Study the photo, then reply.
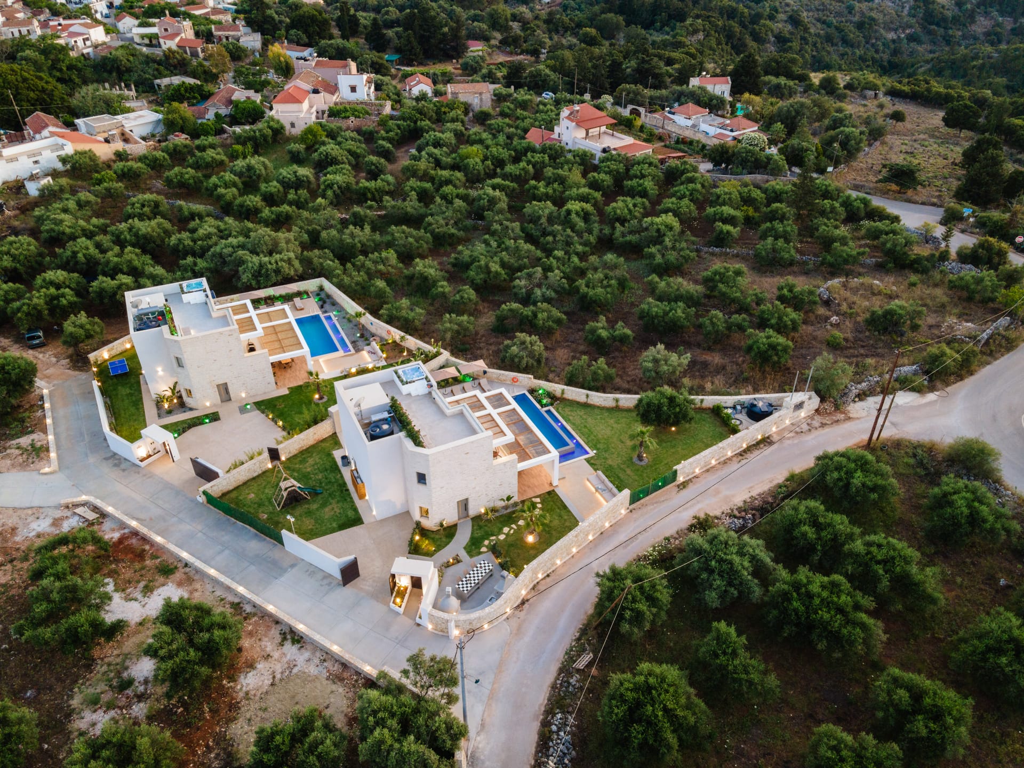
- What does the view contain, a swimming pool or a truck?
swimming pool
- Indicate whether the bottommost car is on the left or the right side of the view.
left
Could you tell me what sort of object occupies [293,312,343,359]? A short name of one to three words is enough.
swimming pool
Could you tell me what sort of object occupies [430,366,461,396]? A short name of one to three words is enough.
umbrella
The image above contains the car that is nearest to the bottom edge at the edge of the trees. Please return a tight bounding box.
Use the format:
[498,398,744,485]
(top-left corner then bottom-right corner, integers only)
[22,322,45,345]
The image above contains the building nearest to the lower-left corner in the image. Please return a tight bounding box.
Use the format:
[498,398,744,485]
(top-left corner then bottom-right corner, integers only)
[131,423,189,468]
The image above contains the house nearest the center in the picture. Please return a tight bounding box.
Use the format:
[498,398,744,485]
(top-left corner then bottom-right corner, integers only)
[335,361,558,527]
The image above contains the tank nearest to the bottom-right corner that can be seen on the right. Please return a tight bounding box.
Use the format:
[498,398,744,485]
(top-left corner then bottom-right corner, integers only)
[745,397,778,426]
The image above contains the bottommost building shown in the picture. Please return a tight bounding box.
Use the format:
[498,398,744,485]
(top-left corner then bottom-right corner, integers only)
[385,555,441,637]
